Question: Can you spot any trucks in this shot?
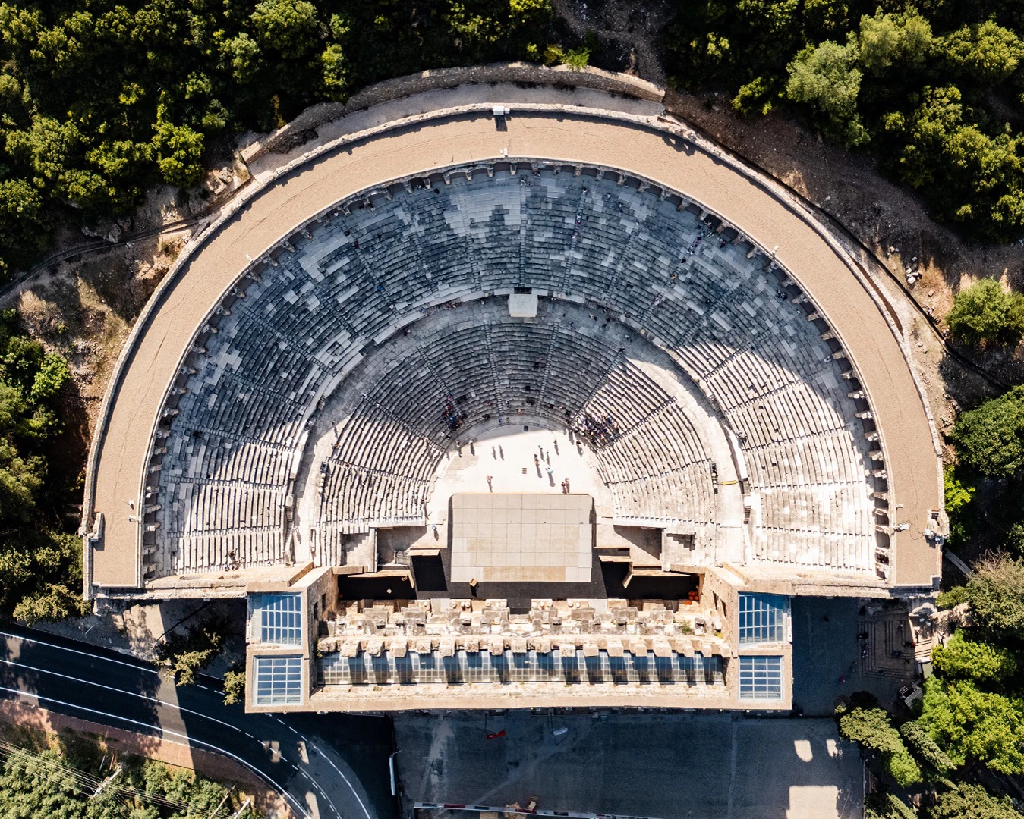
No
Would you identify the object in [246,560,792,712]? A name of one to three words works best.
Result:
building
